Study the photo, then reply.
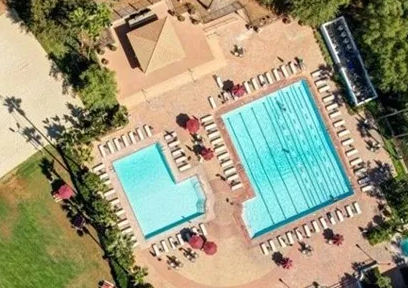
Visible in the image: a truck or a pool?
pool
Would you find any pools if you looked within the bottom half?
Yes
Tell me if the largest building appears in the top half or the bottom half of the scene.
top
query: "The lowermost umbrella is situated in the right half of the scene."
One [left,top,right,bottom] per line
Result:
[281,256,295,270]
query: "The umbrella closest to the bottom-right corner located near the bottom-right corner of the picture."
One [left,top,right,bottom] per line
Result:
[333,231,348,246]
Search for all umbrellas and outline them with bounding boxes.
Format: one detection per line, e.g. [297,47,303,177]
[187,117,201,132]
[202,147,215,160]
[55,183,71,199]
[281,256,295,270]
[190,236,205,250]
[333,231,348,246]
[203,240,219,255]
[234,82,249,96]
